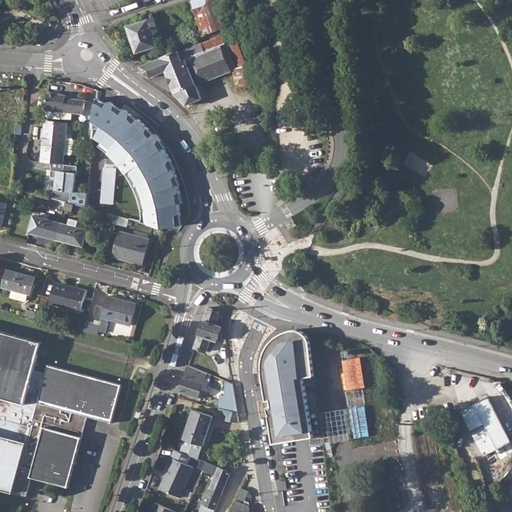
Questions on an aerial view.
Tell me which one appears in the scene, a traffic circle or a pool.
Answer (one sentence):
Visible in the photo is a traffic circle.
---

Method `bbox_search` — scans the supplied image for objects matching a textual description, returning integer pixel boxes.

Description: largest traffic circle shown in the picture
[179,213,259,293]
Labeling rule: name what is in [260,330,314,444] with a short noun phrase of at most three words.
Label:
building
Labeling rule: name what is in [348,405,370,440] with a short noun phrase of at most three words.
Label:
greenhouse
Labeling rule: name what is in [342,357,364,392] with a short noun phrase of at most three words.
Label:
house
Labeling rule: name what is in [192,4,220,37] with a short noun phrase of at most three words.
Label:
shed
